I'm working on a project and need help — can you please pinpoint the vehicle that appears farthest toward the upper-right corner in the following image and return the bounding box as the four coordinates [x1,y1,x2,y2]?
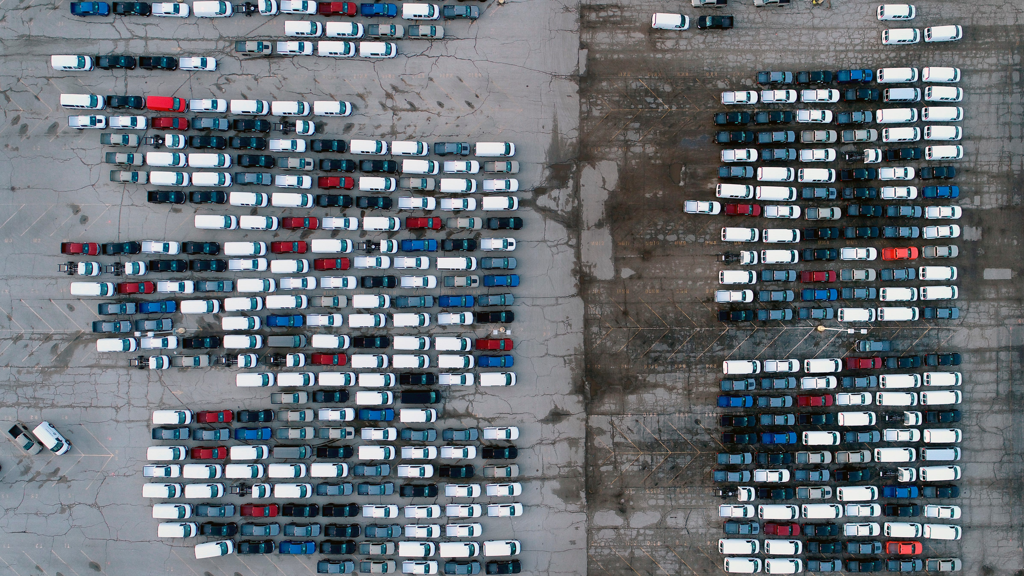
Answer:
[922,23,963,43]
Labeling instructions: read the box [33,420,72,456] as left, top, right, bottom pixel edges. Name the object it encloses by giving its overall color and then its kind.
white van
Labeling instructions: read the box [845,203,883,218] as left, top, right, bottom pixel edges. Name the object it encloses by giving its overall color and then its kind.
black vehicle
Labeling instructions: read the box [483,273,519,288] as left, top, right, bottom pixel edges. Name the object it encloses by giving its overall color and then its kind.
blue vehicle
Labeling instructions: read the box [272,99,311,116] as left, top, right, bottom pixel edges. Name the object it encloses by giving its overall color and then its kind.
white vehicle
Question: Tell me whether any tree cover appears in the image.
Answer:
No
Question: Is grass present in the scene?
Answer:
No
